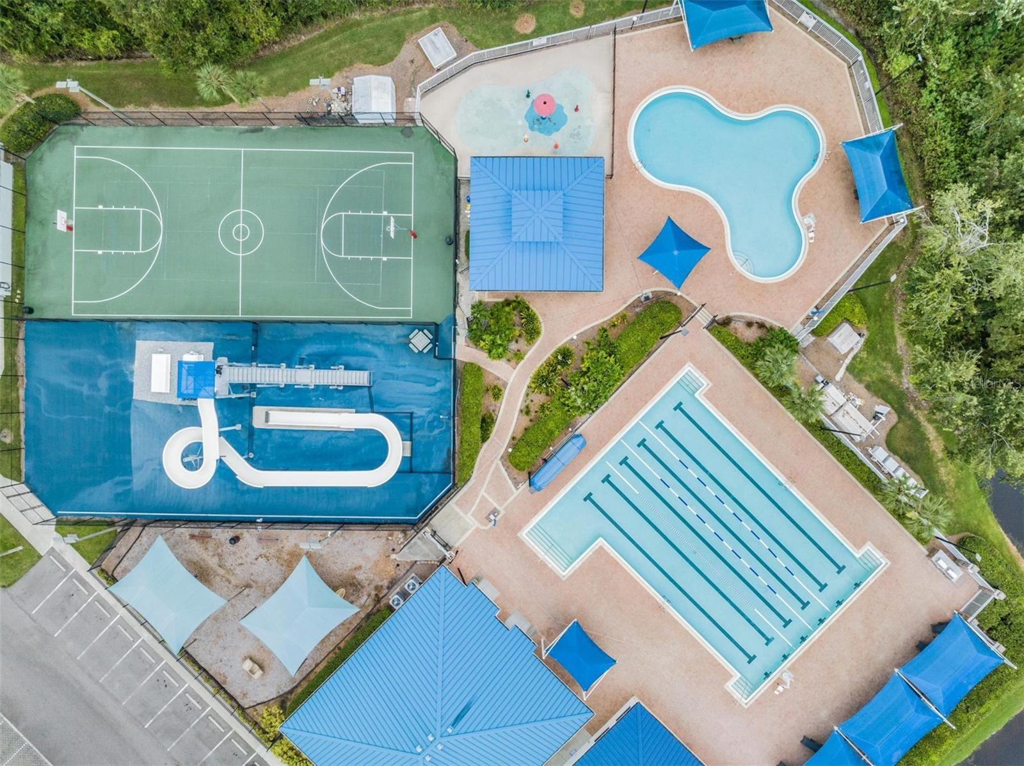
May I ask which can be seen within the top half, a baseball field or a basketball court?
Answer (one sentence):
You can see a basketball court within the top half.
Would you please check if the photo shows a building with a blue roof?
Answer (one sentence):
Yes, this view includes a building with a blue roof.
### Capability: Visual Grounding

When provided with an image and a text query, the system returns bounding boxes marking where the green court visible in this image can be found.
[25,125,457,321]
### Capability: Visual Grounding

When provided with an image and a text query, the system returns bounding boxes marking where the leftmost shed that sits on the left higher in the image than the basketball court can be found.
[351,67,393,122]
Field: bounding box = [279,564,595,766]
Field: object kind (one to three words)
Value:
building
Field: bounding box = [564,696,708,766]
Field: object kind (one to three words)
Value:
building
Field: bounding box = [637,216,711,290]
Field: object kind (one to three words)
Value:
umbrella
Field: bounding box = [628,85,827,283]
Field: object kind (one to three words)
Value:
swimming pool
